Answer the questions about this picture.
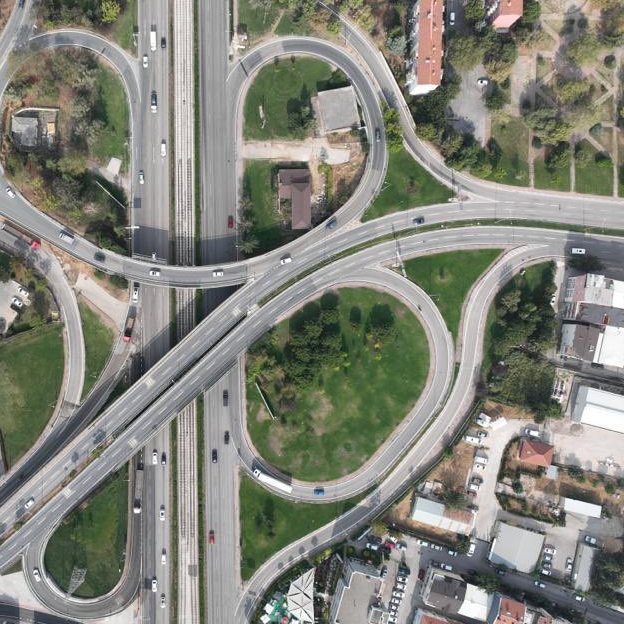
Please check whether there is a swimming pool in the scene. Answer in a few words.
No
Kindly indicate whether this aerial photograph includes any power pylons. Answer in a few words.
Yes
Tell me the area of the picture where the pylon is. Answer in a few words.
bottom left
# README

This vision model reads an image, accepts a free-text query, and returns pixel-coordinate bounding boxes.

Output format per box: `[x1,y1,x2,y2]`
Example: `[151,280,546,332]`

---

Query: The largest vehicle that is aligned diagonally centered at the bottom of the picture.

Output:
[254,467,293,495]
